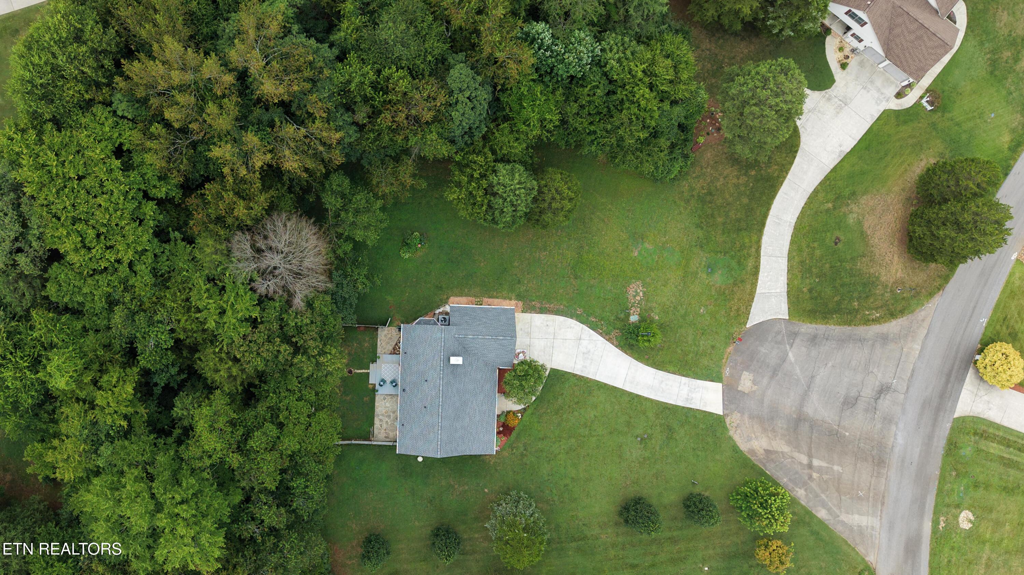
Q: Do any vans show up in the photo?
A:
No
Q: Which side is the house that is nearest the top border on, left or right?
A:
right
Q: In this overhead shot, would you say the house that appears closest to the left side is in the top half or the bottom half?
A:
bottom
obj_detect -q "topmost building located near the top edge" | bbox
[820,0,960,85]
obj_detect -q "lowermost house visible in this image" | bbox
[396,304,517,458]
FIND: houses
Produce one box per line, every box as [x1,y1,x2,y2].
[820,0,960,85]
[396,304,517,458]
